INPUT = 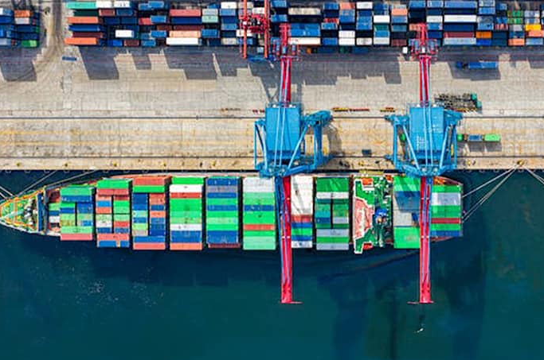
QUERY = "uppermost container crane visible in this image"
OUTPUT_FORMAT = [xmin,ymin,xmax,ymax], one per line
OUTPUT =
[239,0,281,62]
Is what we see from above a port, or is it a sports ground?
port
